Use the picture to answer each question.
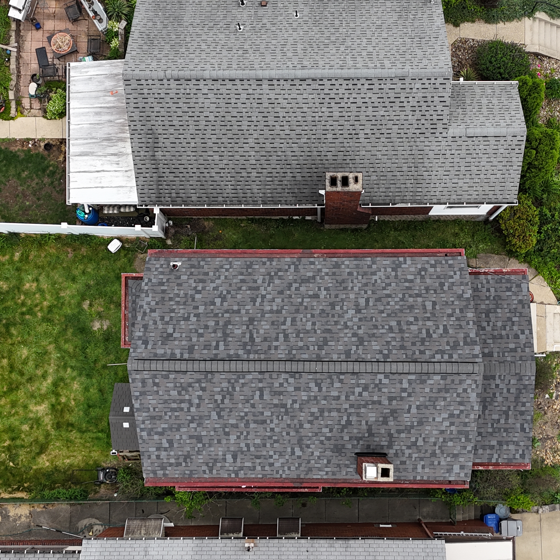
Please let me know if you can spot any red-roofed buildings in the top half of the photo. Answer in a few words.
No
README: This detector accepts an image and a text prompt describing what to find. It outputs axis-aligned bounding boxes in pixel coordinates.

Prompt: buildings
[0,518,515,560]
[109,249,537,494]
[64,0,526,231]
